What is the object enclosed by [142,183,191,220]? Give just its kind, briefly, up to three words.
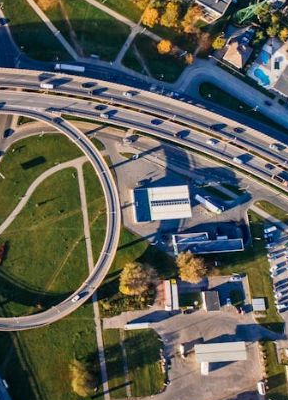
building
